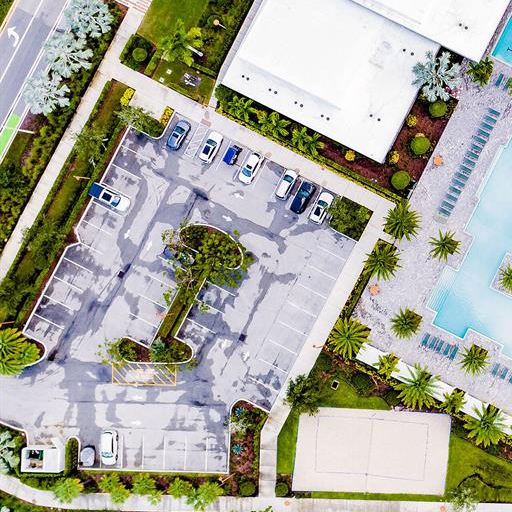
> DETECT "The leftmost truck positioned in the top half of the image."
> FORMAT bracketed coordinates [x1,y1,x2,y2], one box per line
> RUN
[88,183,132,211]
